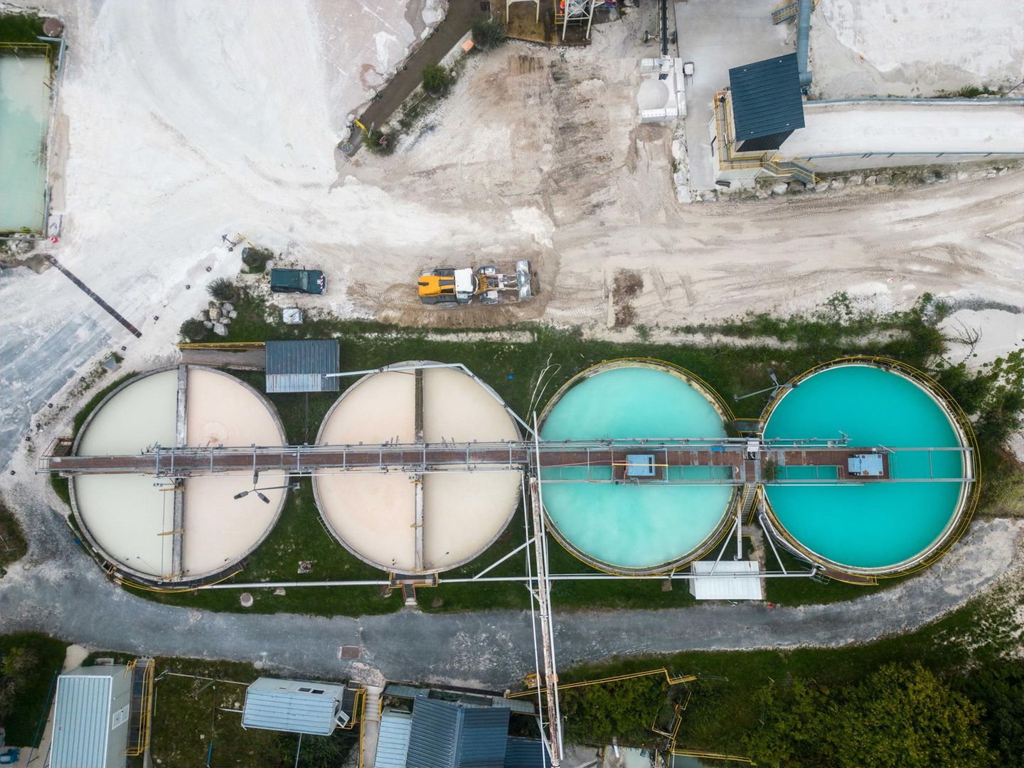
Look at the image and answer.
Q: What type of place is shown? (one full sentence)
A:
The picture captures an industrial area.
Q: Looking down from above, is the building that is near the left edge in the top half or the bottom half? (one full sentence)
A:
The building that is near the left edge is in the bottom half of the image.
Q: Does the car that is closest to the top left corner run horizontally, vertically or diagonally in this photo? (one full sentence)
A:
In this picture, the car that is closest to the top left corner lies horizontally.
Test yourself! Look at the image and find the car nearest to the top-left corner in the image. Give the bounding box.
[271,270,327,296]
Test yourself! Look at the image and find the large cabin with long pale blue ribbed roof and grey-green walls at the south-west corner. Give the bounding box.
[48,666,130,768]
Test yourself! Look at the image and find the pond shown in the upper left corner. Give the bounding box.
[0,39,51,233]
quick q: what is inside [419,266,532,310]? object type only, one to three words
work vehicle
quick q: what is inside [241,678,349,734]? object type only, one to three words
building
